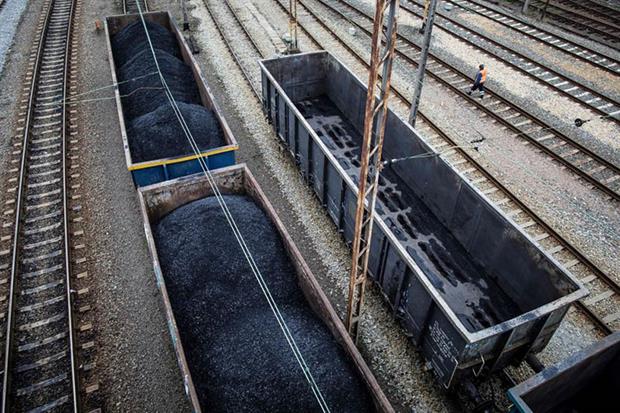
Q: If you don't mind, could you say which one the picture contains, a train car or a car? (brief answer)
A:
train car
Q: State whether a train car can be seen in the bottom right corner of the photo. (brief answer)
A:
Yes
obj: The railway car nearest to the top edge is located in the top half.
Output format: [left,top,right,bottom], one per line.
[104,10,239,227]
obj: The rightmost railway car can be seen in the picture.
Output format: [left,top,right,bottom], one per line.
[493,332,620,413]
